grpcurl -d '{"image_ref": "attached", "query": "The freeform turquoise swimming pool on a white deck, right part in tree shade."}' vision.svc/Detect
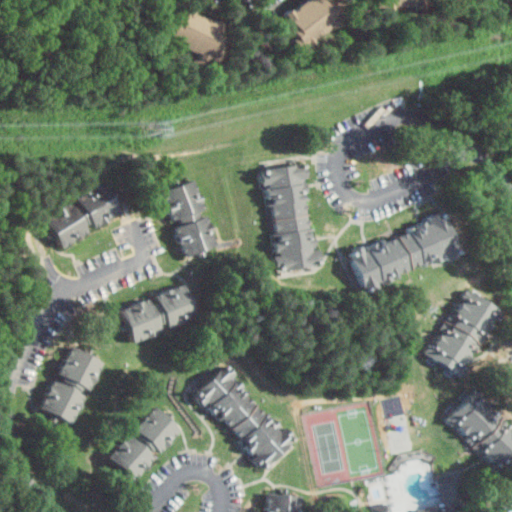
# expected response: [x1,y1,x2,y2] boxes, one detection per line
[384,460,441,512]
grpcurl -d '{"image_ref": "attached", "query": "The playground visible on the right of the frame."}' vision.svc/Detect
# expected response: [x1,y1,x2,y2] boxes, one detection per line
[382,398,413,456]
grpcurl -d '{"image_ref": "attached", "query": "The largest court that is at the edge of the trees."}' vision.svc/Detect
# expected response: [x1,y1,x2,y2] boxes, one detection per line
[302,402,385,487]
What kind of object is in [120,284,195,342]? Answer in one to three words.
building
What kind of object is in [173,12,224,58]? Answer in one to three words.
house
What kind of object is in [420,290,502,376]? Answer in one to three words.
building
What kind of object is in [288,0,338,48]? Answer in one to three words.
house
